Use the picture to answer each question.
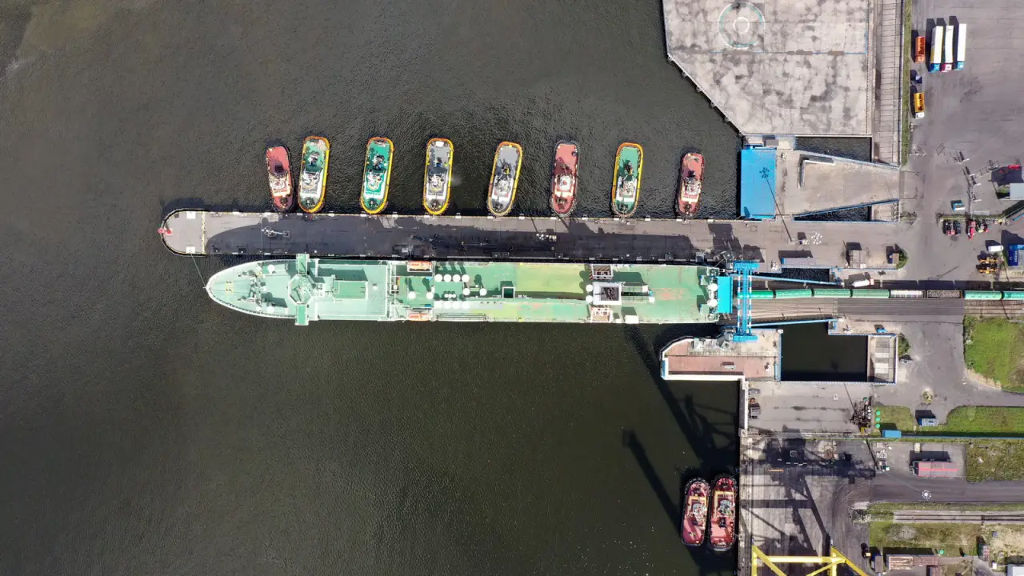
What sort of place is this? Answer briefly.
port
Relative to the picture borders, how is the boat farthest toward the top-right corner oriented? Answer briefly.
vertically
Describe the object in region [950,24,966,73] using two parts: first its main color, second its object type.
white vehicle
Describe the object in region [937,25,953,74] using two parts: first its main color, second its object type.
white vehicle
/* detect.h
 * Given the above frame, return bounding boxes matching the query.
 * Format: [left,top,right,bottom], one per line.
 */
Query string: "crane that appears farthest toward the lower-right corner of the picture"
[752,541,873,576]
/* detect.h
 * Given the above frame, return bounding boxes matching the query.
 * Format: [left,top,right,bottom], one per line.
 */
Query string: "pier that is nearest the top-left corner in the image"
[160,208,740,275]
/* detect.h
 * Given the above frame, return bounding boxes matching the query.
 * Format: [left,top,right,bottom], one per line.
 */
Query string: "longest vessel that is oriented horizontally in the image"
[205,254,733,325]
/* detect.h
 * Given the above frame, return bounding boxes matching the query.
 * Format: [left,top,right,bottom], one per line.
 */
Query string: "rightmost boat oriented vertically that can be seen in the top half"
[673,152,703,219]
